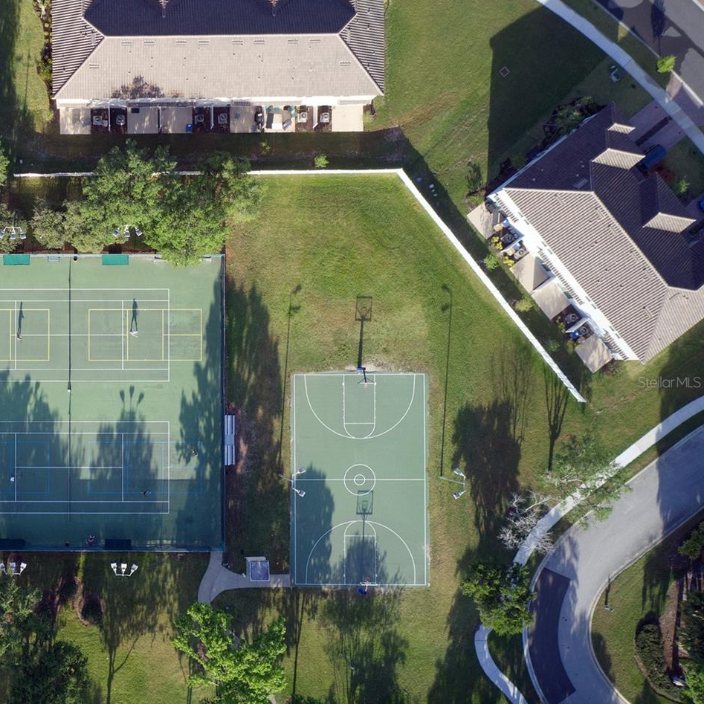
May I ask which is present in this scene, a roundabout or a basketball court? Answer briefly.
basketball court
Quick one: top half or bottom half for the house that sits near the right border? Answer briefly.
top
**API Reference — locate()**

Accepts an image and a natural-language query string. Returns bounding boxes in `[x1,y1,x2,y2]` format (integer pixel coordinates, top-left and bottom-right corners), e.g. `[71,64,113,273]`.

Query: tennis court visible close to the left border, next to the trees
[0,258,222,547]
